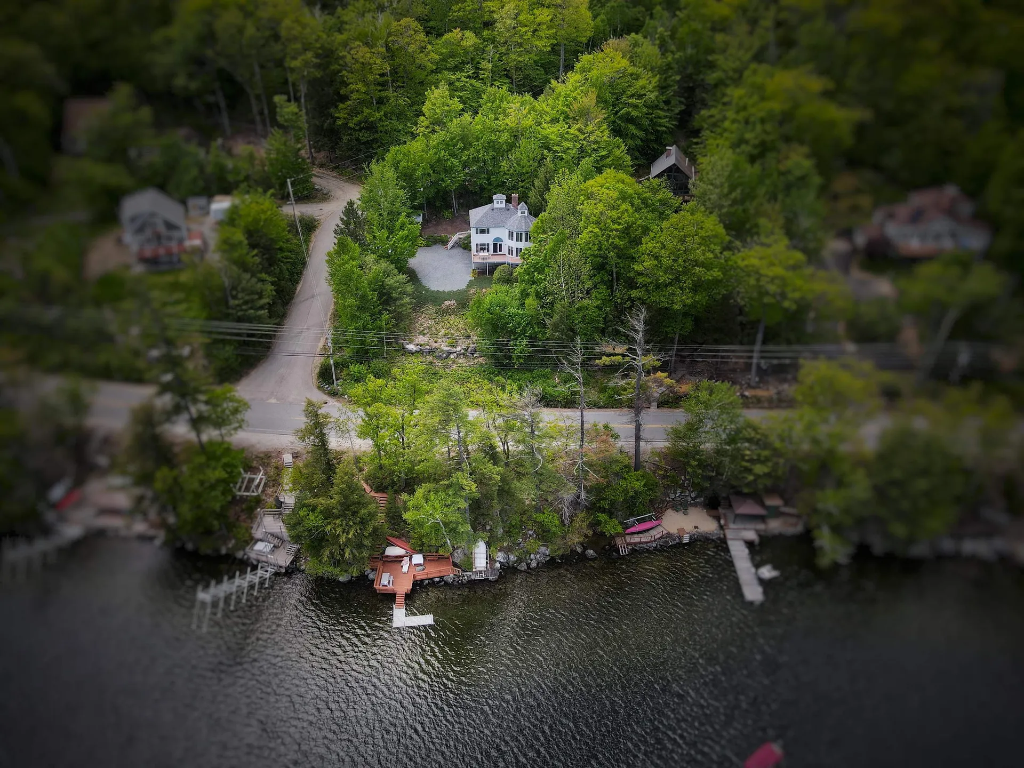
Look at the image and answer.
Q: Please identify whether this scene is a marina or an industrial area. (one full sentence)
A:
This image shows a marina.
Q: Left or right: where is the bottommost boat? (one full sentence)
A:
You can find the bottommost boat on the right side of the picture.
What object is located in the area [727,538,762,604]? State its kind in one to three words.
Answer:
pier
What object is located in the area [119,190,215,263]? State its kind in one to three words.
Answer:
house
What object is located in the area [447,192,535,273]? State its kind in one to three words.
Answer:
house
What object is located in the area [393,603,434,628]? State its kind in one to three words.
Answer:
pier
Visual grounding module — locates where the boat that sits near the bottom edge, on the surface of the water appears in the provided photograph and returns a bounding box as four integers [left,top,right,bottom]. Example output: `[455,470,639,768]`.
[740,744,781,768]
